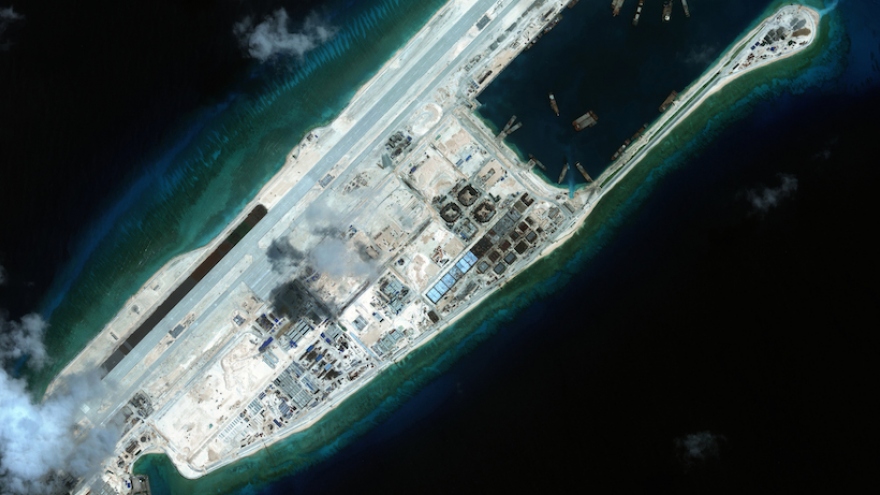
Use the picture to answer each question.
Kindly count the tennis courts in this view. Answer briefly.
none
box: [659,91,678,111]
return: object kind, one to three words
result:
ship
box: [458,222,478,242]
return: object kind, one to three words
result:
building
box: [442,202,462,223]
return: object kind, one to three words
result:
building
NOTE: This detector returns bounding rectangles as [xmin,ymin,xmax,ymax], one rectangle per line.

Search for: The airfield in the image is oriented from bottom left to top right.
[54,0,522,442]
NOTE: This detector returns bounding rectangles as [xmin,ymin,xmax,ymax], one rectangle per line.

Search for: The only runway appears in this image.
[54,0,498,435]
